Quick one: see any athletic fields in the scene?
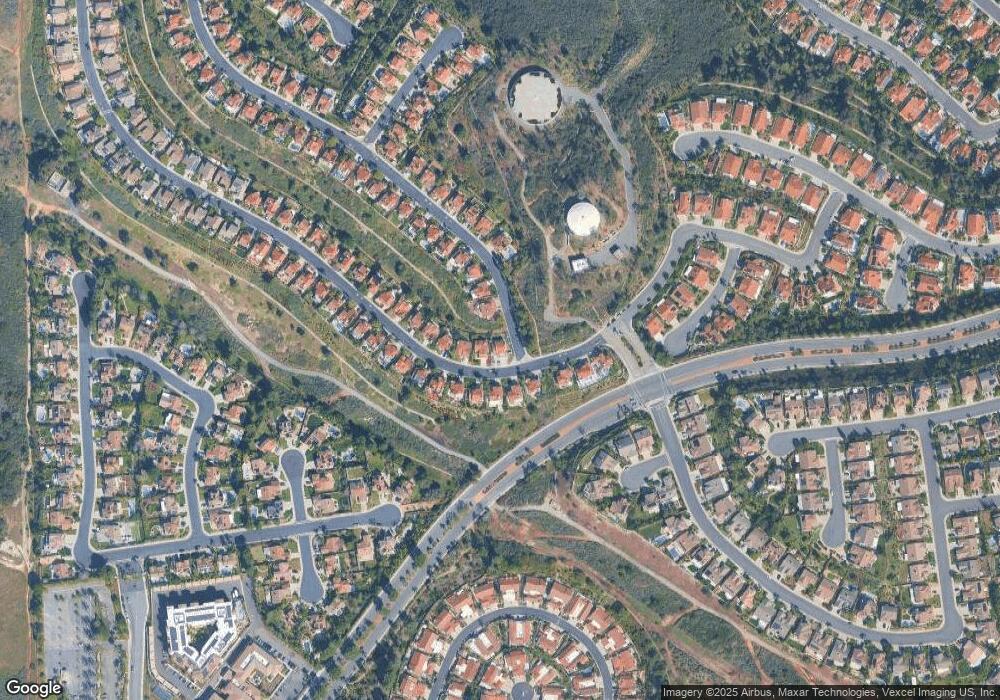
No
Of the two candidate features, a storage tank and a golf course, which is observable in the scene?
storage tank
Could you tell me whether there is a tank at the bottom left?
No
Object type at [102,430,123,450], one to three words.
house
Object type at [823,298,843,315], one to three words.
swimming pool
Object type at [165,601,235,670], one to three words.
building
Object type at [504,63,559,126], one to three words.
storage tank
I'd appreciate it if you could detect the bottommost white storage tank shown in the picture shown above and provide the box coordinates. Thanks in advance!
[567,202,602,235]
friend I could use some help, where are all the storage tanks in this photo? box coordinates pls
[567,202,602,235]
[504,63,559,126]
